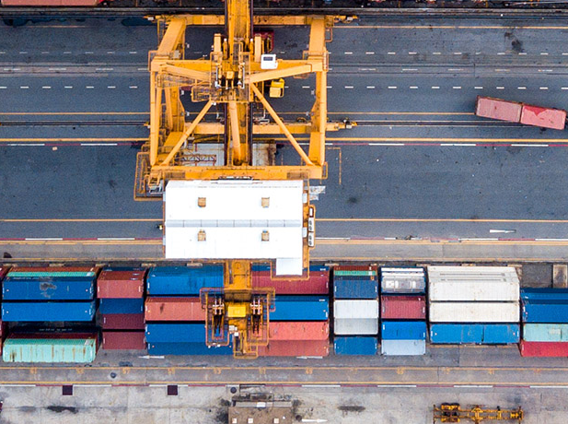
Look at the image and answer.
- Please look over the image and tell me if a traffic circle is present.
No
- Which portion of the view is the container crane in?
center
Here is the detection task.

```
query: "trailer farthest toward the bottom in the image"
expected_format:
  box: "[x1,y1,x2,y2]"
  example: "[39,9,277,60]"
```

[433,403,523,423]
